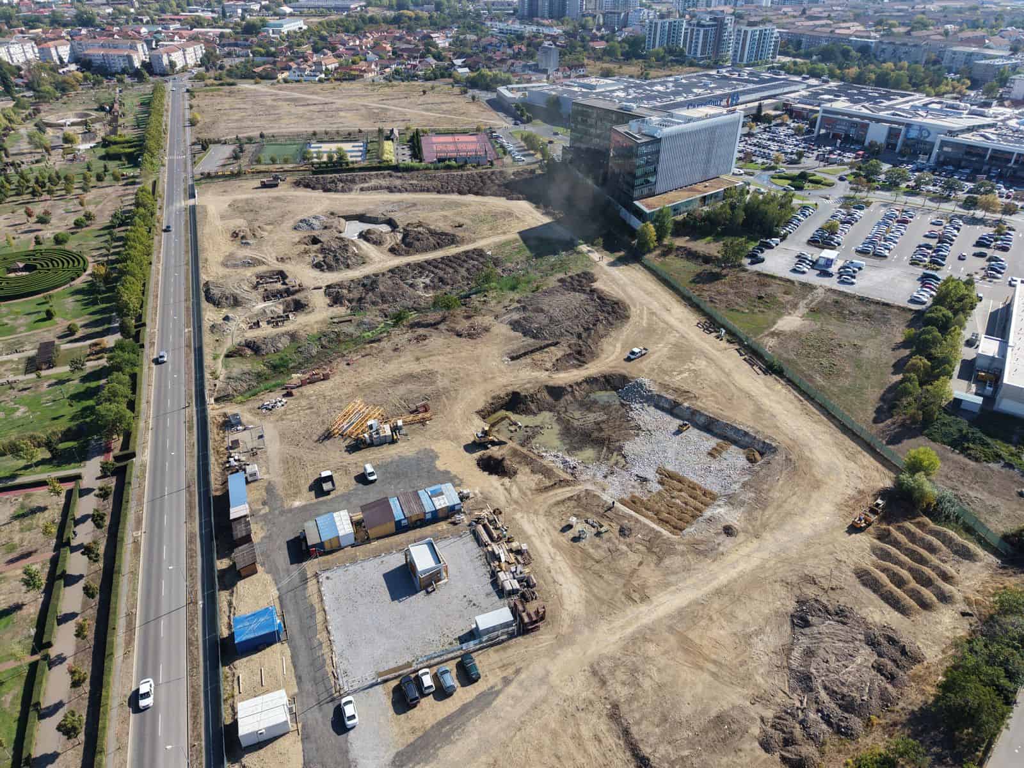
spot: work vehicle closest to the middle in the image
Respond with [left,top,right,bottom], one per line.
[476,409,525,452]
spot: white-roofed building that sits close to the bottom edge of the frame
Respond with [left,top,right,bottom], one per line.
[237,688,294,746]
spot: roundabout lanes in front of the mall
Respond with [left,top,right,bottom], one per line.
[760,166,844,199]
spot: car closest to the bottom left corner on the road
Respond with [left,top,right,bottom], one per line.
[134,676,154,709]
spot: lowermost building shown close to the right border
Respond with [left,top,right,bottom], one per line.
[950,277,1024,434]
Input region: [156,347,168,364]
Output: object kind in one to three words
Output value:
vehicle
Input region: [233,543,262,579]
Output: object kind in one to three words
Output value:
shed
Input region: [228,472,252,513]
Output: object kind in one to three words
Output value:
building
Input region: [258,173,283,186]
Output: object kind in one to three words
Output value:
vehicle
